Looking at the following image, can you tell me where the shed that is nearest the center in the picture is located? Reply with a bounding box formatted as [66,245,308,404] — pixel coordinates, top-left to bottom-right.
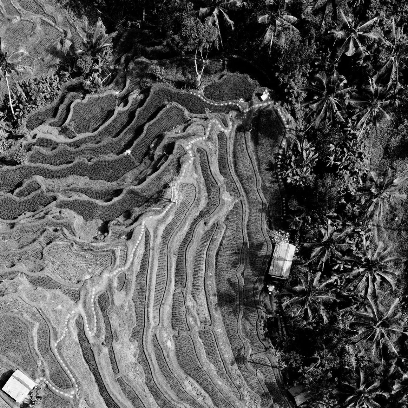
[267,243,295,281]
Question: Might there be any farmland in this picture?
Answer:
Yes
